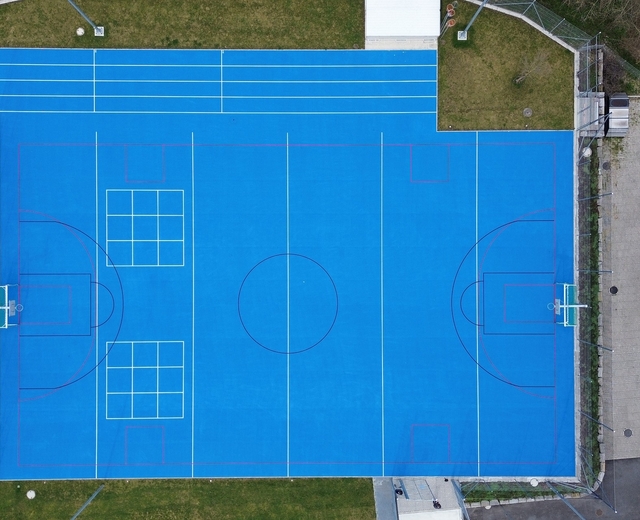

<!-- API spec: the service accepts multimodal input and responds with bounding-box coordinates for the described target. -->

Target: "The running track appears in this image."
[0,49,438,115]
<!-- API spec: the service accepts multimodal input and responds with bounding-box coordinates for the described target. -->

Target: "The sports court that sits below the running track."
[0,115,575,480]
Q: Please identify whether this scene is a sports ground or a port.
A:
sports ground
